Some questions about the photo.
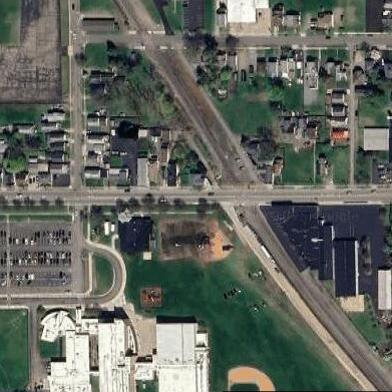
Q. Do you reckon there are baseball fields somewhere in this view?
Yes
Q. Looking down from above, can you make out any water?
No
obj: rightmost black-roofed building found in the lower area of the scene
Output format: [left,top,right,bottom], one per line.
[333,240,357,296]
